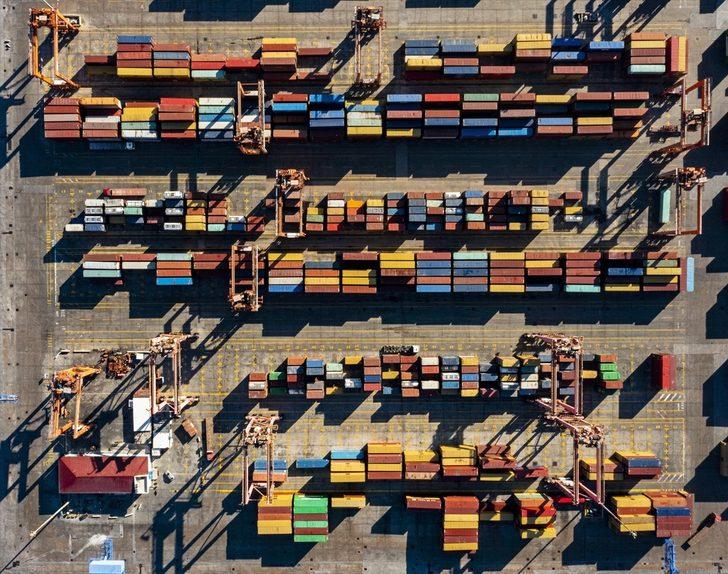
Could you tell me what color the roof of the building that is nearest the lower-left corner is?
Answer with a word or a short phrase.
red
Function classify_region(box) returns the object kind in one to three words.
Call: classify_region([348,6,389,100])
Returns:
container crane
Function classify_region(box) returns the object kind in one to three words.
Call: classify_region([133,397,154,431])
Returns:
shed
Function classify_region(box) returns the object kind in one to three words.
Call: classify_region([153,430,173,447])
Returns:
shed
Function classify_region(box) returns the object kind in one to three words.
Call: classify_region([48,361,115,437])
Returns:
container crane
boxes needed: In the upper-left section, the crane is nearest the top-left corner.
[26,2,94,97]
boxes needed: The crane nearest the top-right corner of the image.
[644,78,714,160]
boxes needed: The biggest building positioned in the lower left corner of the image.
[60,454,159,494]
